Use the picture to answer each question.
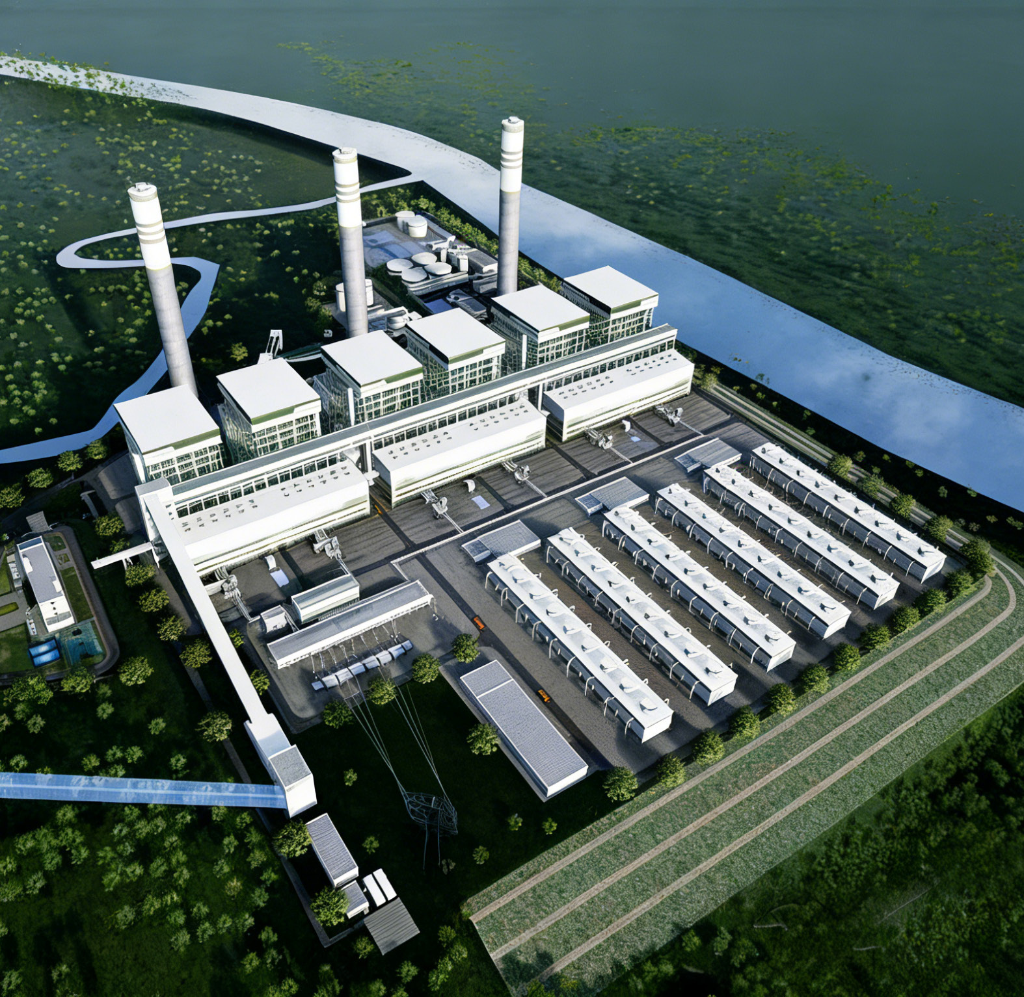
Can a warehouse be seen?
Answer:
Yes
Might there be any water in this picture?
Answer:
Yes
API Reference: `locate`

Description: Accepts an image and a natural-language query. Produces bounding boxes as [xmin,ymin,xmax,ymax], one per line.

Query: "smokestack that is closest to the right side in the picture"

[497,117,527,298]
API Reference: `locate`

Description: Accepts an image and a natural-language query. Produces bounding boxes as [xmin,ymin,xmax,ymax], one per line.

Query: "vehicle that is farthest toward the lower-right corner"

[537,685,553,703]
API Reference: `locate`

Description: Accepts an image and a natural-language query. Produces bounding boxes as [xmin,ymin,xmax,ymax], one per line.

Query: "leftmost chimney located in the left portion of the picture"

[123,183,199,400]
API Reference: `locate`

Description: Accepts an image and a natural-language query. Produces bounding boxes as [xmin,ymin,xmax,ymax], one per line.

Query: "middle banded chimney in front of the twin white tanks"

[330,147,370,340]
